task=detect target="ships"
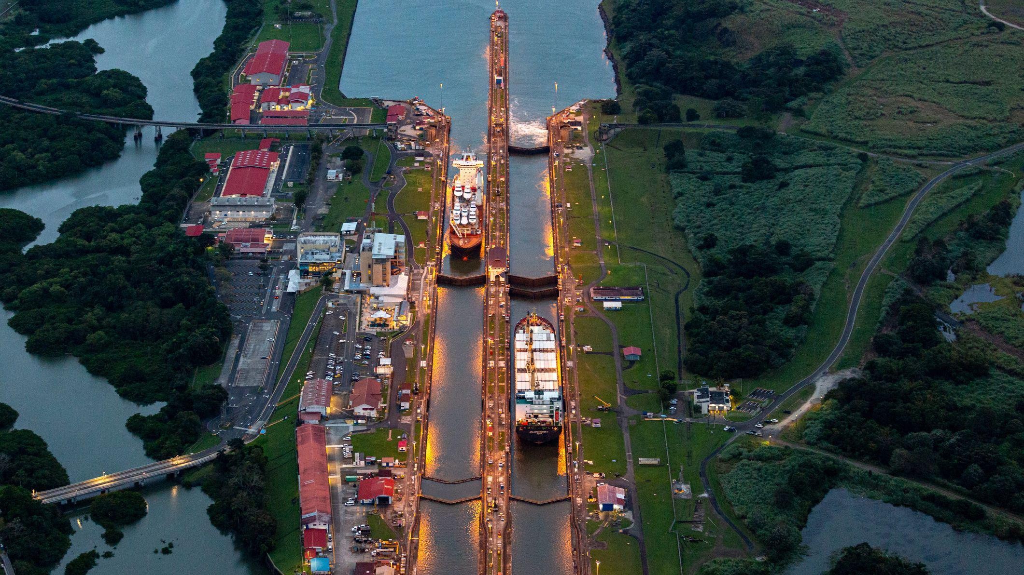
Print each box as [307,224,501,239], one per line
[450,150,485,255]
[514,306,562,440]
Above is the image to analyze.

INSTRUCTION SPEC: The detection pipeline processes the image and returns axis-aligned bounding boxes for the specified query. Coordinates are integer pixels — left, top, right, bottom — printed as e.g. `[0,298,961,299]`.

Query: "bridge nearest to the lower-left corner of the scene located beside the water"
[0,444,227,519]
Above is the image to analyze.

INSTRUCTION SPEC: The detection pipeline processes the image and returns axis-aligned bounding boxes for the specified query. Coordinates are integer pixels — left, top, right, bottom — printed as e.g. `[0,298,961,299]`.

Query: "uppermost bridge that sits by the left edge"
[0,95,387,139]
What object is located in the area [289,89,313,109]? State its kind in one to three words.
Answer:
building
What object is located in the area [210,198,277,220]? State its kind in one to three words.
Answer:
building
